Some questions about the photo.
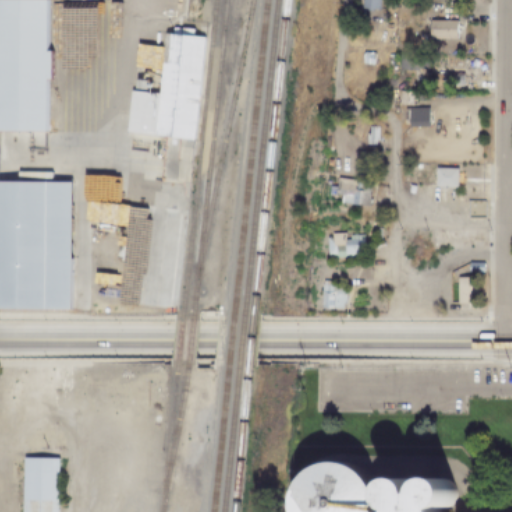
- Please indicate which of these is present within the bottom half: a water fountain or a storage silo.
storage silo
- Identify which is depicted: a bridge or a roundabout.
bridge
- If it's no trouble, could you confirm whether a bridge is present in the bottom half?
Yes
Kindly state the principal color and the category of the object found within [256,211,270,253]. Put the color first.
white rail car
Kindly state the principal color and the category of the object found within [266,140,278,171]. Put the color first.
white rail car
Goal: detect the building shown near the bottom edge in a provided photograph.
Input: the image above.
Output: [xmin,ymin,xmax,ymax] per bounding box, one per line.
[24,457,62,512]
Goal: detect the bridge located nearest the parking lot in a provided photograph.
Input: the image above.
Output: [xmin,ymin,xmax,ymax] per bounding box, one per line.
[216,314,264,364]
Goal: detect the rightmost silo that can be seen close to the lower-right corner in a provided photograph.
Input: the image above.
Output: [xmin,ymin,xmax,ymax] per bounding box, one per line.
[398,474,456,510]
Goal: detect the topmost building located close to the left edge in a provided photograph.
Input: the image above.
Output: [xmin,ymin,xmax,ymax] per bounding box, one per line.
[0,0,56,131]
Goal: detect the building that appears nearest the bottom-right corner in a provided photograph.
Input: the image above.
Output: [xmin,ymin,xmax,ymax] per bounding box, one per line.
[459,278,472,304]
